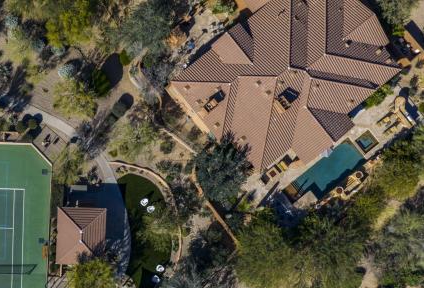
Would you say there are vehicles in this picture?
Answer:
No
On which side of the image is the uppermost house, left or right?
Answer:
right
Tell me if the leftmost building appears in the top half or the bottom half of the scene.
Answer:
bottom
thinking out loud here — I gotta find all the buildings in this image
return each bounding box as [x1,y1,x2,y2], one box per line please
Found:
[167,0,403,173]
[55,207,107,264]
